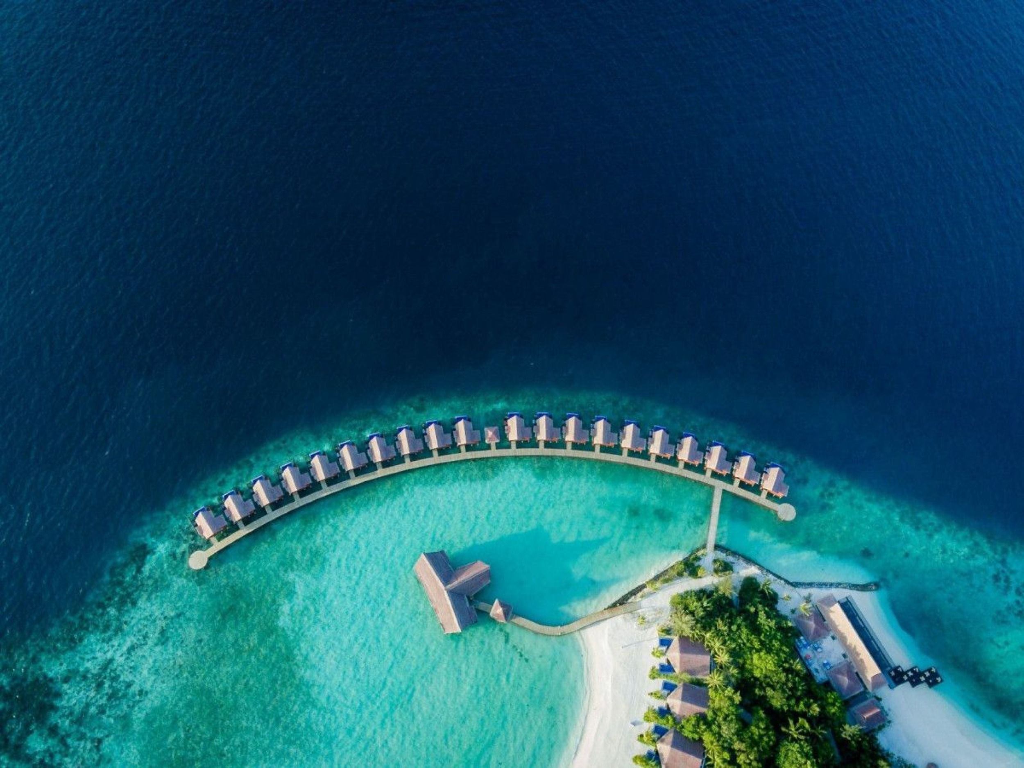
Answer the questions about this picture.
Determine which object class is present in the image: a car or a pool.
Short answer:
pool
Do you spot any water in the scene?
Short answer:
Yes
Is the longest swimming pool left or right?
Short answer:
right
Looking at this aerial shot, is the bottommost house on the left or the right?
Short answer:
right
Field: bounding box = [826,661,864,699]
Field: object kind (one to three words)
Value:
building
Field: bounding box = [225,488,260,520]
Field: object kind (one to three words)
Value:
house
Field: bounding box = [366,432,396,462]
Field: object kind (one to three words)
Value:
house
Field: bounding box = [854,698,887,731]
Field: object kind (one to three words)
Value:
shed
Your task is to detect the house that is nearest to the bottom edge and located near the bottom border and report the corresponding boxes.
[657,728,705,768]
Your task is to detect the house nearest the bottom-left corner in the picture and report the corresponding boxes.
[196,505,233,537]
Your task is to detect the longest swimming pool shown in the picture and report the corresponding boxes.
[835,593,895,689]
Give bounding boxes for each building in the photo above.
[646,427,674,457]
[490,597,512,622]
[826,661,864,699]
[817,594,888,692]
[225,488,260,520]
[394,425,425,454]
[666,636,714,676]
[414,549,491,633]
[667,682,710,722]
[589,417,617,446]
[854,698,887,731]
[280,461,314,492]
[674,432,702,464]
[657,728,705,768]
[758,462,787,495]
[618,420,645,451]
[560,414,588,443]
[503,413,531,442]
[308,449,342,480]
[252,473,287,505]
[196,505,233,537]
[702,442,730,473]
[485,427,500,443]
[730,450,759,483]
[451,416,481,445]
[531,413,560,442]
[422,419,452,449]
[366,432,396,462]
[337,440,369,470]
